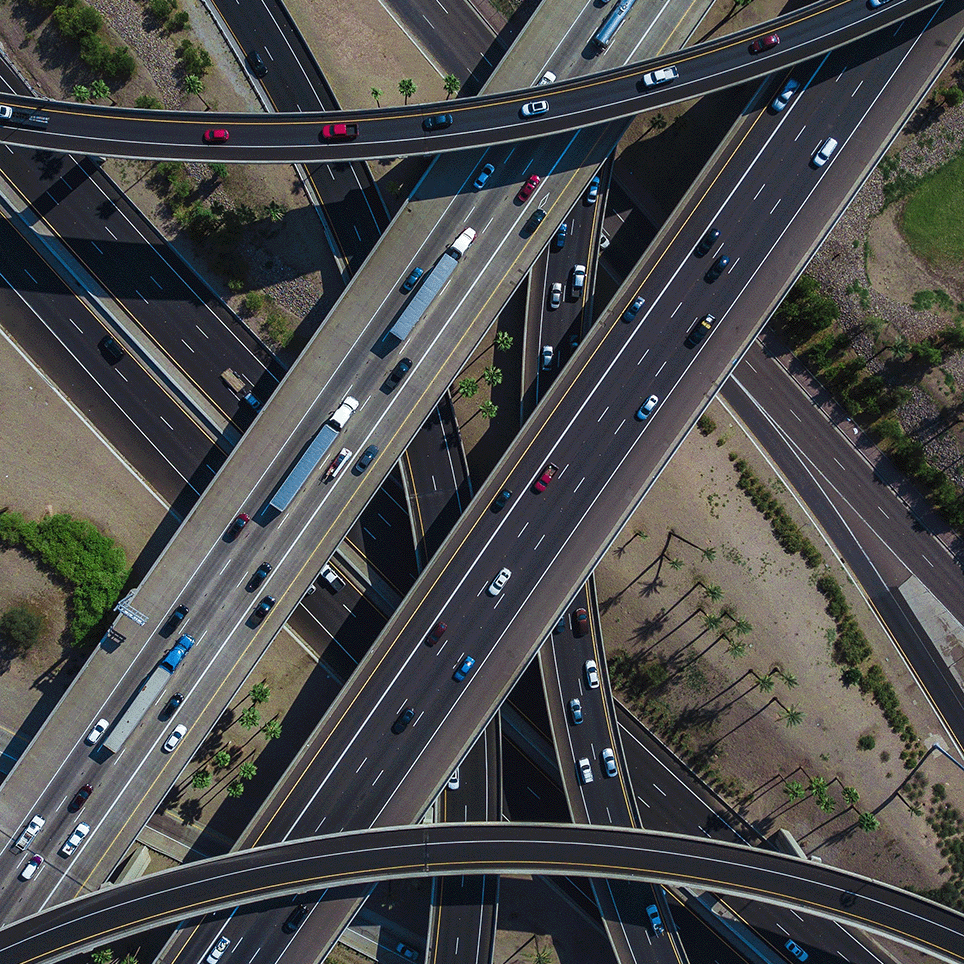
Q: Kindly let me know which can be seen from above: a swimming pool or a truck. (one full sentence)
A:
Visible in the photo is a truck.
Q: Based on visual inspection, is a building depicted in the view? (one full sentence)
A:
No, no building can be seen from above.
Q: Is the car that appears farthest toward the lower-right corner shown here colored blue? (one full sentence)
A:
Yes, the car that appears farthest toward the lower-right corner is indeed blue.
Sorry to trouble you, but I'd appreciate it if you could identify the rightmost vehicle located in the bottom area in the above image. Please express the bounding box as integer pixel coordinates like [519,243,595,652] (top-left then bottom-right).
[784,939,809,961]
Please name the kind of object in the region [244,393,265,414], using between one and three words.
vehicle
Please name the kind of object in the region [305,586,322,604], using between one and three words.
car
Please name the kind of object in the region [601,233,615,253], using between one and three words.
car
